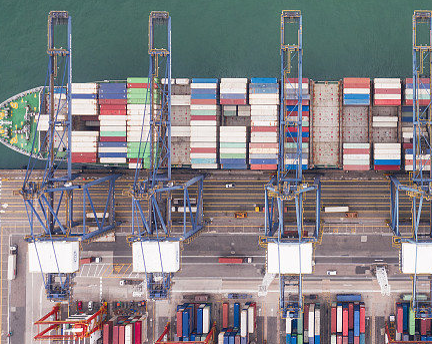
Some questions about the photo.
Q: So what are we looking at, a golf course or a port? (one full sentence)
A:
This looks like a port.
